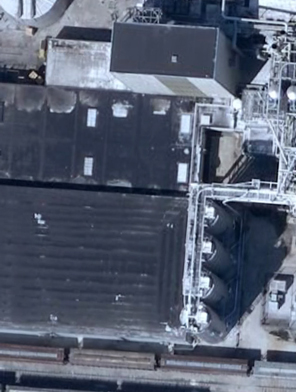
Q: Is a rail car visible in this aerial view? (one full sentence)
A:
Yes, there's a rail car down there.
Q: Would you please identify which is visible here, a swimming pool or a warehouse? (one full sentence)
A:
The image shows a warehouse.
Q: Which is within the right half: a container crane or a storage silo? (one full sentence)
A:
The one visible within the right half is a storage silo.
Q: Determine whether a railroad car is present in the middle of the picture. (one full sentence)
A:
No, I see no railroad car in the middle of the picture.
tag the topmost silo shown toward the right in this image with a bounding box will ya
[198,203,237,240]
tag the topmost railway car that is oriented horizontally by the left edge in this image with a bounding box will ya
[0,343,67,364]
